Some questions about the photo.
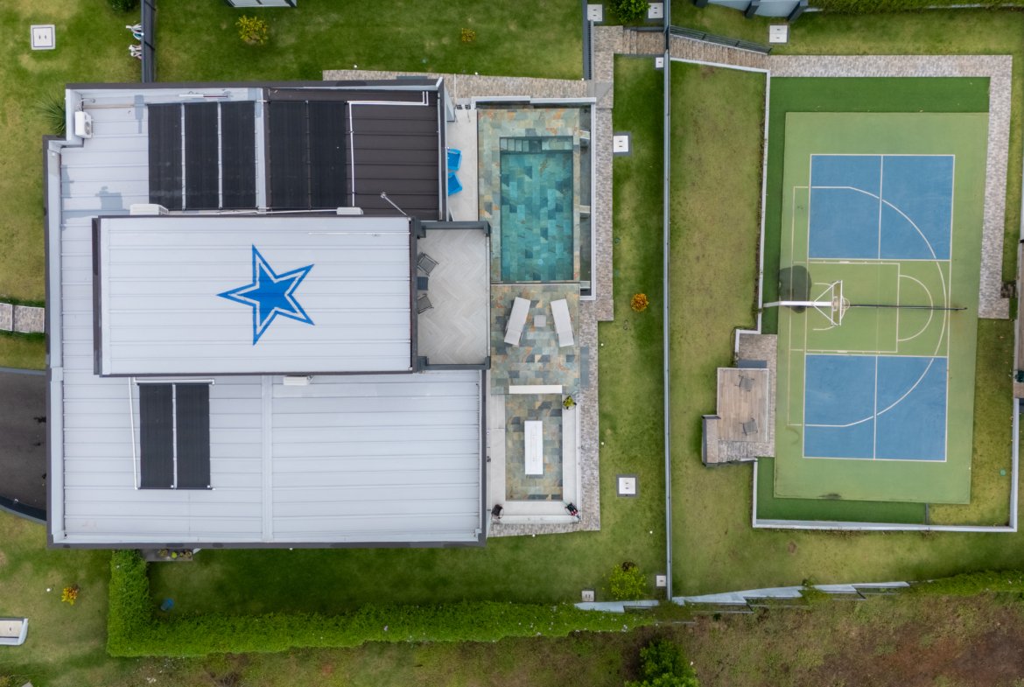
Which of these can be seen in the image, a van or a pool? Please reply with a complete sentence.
This aerial view contains a pool.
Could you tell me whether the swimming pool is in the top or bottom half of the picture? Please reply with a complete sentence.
The swimming pool is in the top half of the image.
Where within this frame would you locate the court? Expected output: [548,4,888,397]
[774,112,989,504]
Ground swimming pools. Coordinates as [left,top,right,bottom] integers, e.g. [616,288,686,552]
[471,97,595,302]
